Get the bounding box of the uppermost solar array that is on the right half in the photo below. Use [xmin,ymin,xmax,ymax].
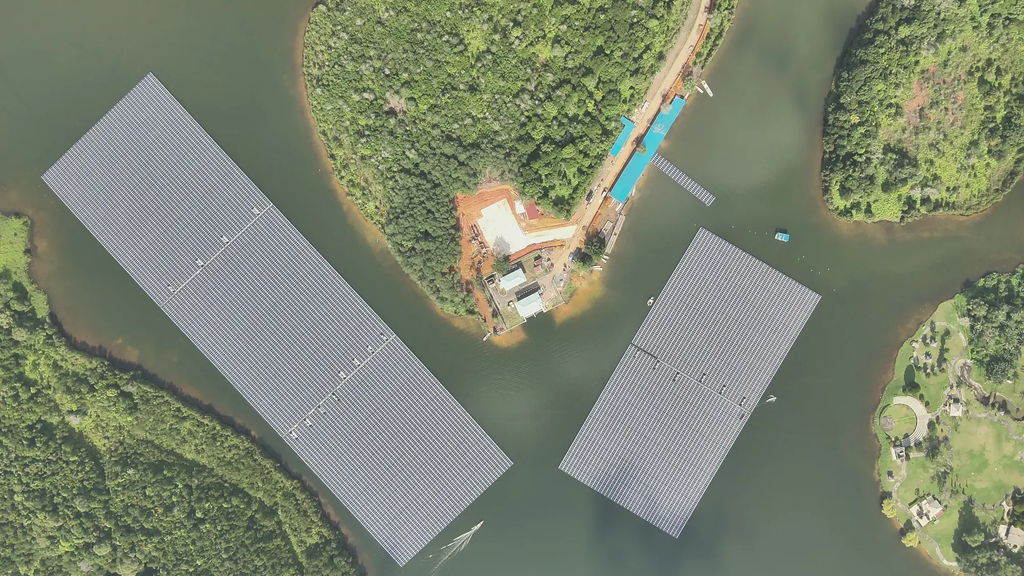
[651,152,716,206]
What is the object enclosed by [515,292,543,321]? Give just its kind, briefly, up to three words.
building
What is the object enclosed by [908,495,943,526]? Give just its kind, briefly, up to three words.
building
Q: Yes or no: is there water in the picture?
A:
Yes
